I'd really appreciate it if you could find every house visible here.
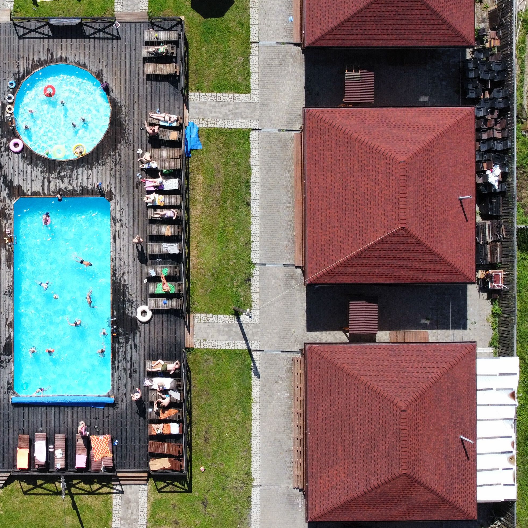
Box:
[301,341,479,523]
[299,0,477,49]
[299,106,478,286]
